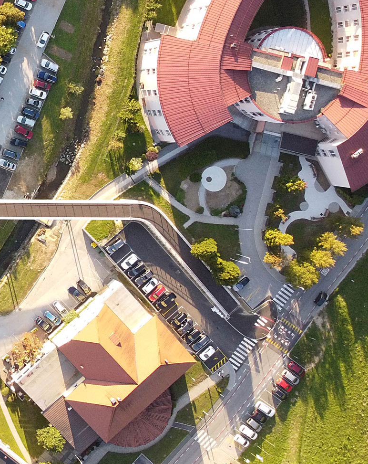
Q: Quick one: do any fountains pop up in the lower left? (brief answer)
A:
No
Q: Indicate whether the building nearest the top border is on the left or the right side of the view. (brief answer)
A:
right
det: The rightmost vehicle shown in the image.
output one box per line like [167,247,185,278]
[312,290,328,308]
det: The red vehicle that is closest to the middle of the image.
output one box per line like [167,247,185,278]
[148,284,167,301]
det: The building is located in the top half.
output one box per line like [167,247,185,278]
[137,0,368,192]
